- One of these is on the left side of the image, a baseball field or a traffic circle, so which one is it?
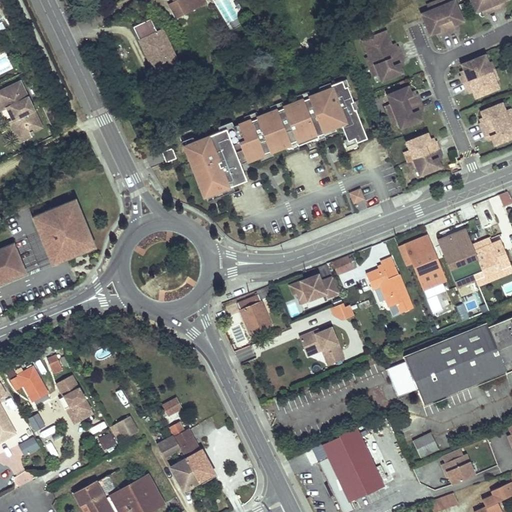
traffic circle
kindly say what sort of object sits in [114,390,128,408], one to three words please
vehicle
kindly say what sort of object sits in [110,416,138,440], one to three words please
barn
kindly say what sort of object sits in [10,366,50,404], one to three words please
house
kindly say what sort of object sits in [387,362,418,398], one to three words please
building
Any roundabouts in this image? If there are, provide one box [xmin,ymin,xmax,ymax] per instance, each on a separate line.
[110,212,219,322]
